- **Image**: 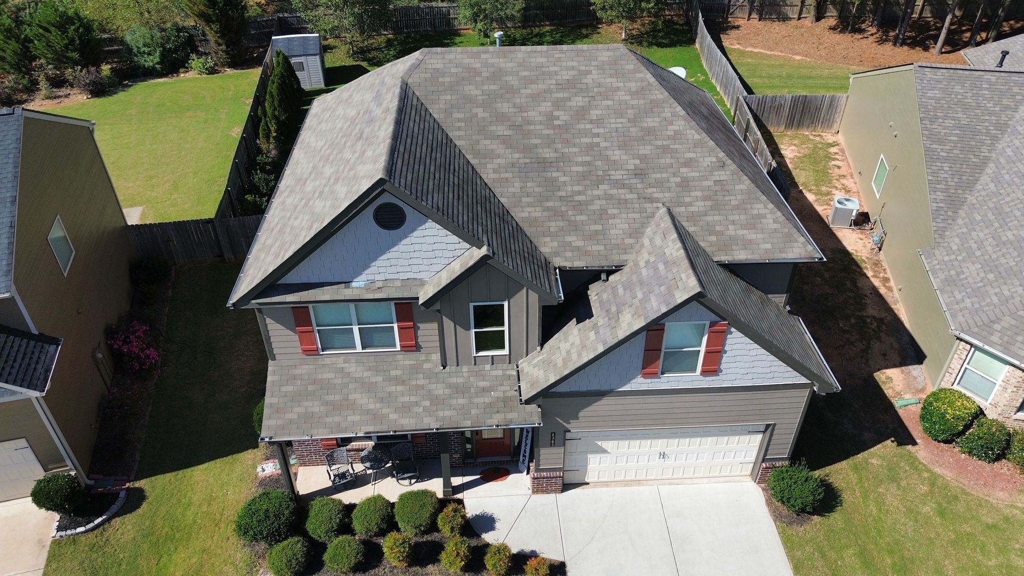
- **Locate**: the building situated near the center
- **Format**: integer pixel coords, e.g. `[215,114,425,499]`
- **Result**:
[221,28,846,503]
